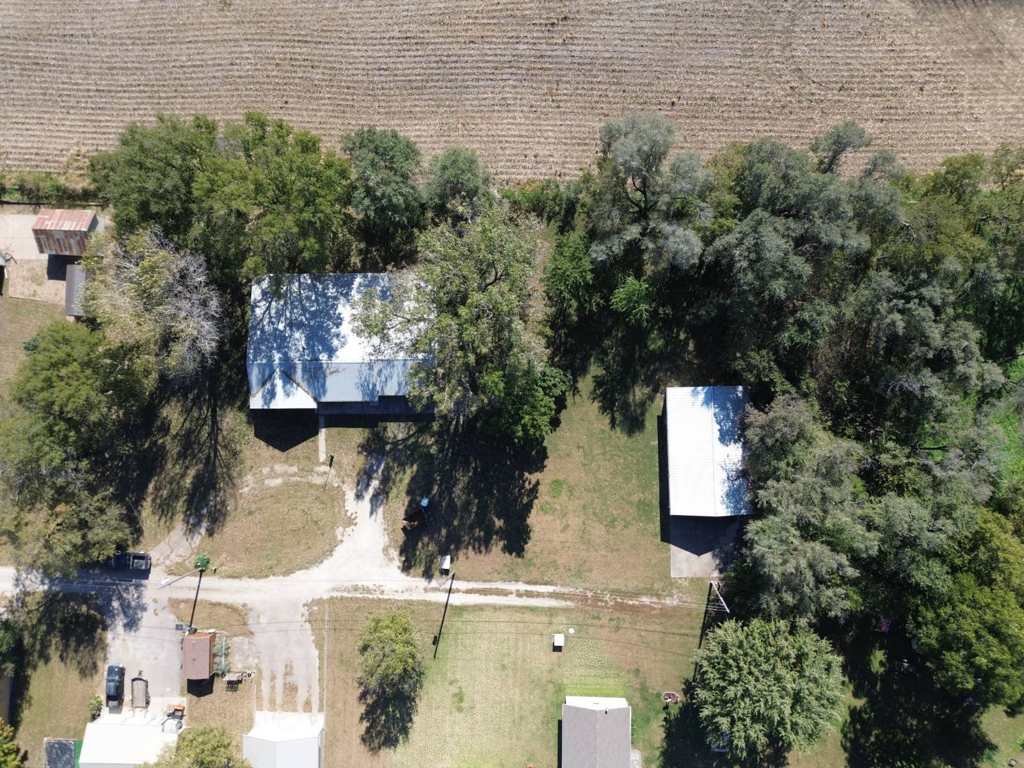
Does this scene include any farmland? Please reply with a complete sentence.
Yes, farmland can be seen from above here.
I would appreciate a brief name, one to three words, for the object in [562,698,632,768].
house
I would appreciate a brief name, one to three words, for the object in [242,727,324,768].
building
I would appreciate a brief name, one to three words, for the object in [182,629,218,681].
shed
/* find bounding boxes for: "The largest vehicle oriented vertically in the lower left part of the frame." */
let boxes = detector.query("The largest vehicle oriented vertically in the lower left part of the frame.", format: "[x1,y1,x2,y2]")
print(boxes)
[106,661,128,710]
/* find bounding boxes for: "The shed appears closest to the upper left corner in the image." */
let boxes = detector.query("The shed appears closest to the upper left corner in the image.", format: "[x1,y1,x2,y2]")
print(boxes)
[32,208,104,258]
